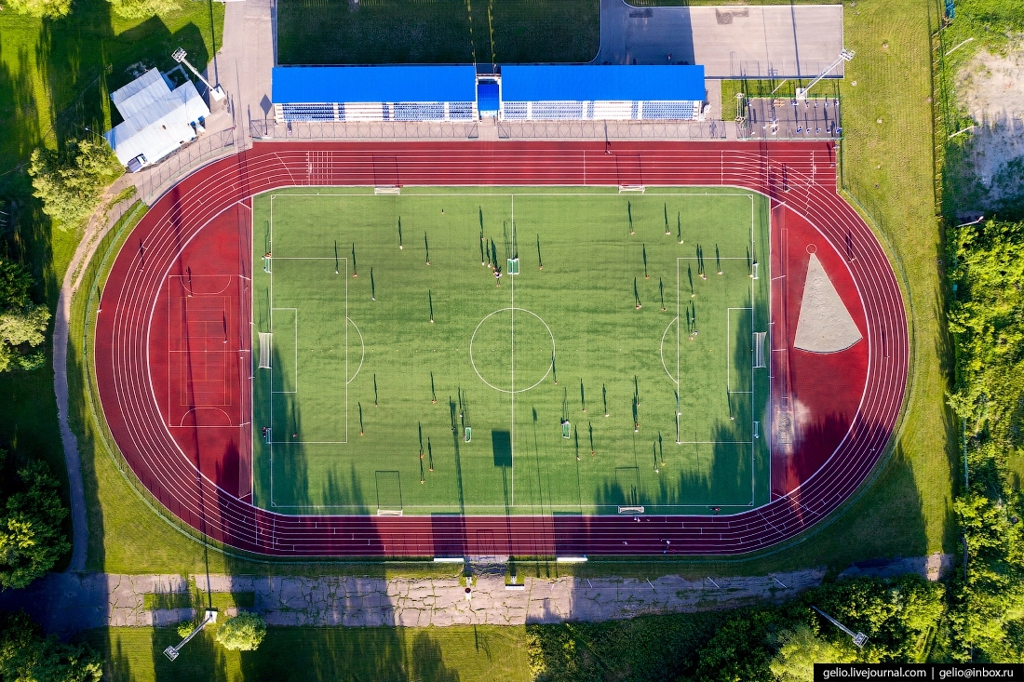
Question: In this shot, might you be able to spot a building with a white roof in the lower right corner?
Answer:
No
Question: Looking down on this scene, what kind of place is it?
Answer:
sports ground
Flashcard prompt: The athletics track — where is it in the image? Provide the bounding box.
[94,142,909,556]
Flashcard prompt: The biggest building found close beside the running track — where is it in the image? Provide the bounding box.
[105,65,212,166]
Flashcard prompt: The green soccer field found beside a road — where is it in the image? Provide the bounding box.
[252,185,771,515]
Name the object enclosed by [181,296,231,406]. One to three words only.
tennis court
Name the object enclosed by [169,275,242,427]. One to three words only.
basketball court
